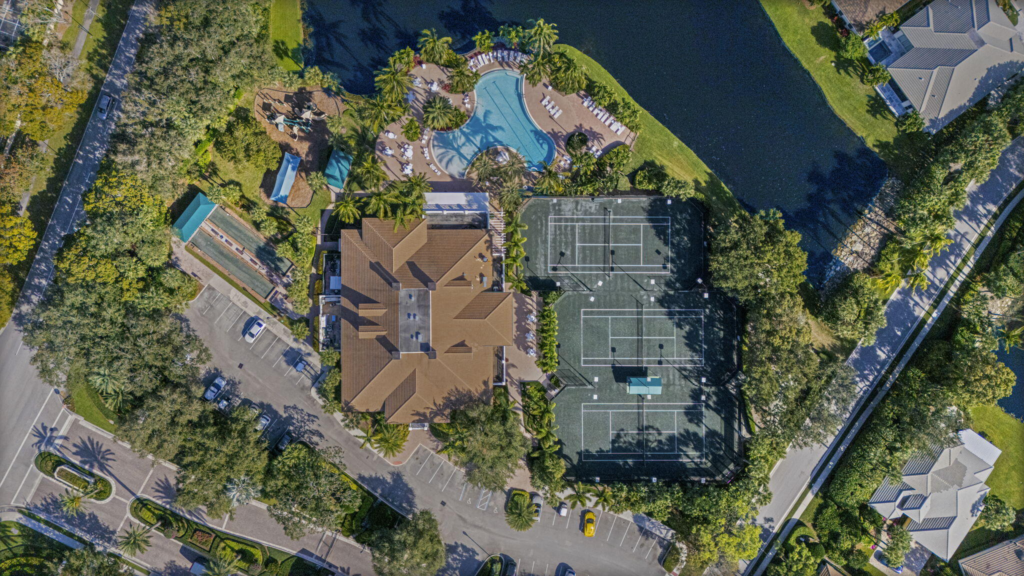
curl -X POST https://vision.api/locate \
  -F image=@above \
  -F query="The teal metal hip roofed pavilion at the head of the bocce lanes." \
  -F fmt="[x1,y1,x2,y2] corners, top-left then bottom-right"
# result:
[175,192,219,243]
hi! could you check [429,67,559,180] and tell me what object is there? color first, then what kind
blue swimming pool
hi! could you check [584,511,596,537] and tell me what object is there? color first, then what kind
yellow vehicle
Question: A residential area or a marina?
residential area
